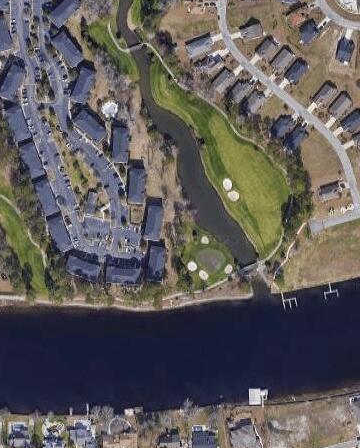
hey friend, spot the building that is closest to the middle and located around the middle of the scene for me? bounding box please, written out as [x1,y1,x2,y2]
[145,206,164,241]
